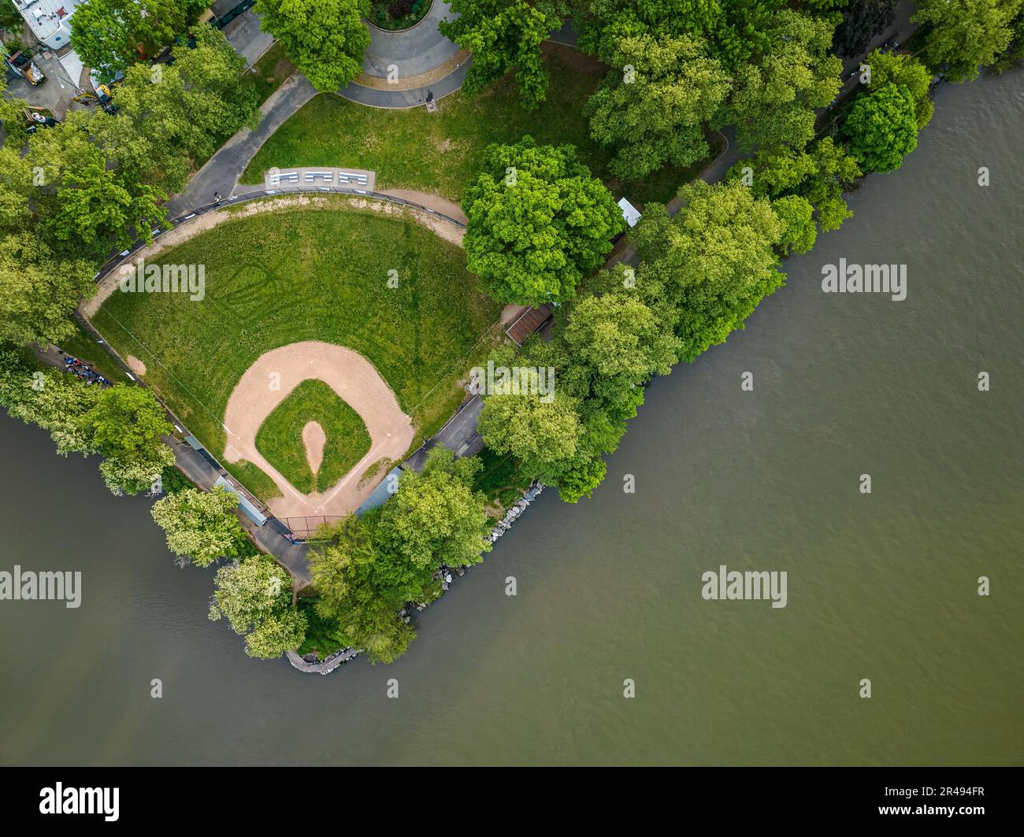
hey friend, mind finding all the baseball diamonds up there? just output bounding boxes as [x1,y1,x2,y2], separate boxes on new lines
[81,194,524,538]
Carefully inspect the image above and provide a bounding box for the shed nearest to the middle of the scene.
[505,292,562,347]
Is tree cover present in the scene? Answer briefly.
Yes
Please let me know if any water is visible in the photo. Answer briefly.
Yes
